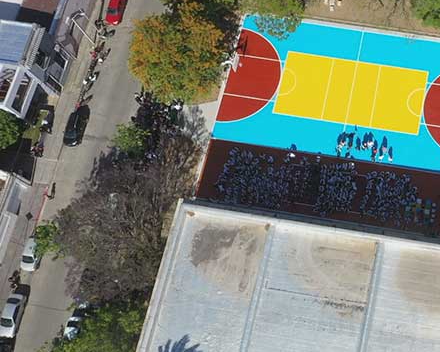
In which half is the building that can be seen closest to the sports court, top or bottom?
bottom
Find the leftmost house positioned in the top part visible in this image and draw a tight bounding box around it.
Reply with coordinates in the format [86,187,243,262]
[0,20,38,84]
